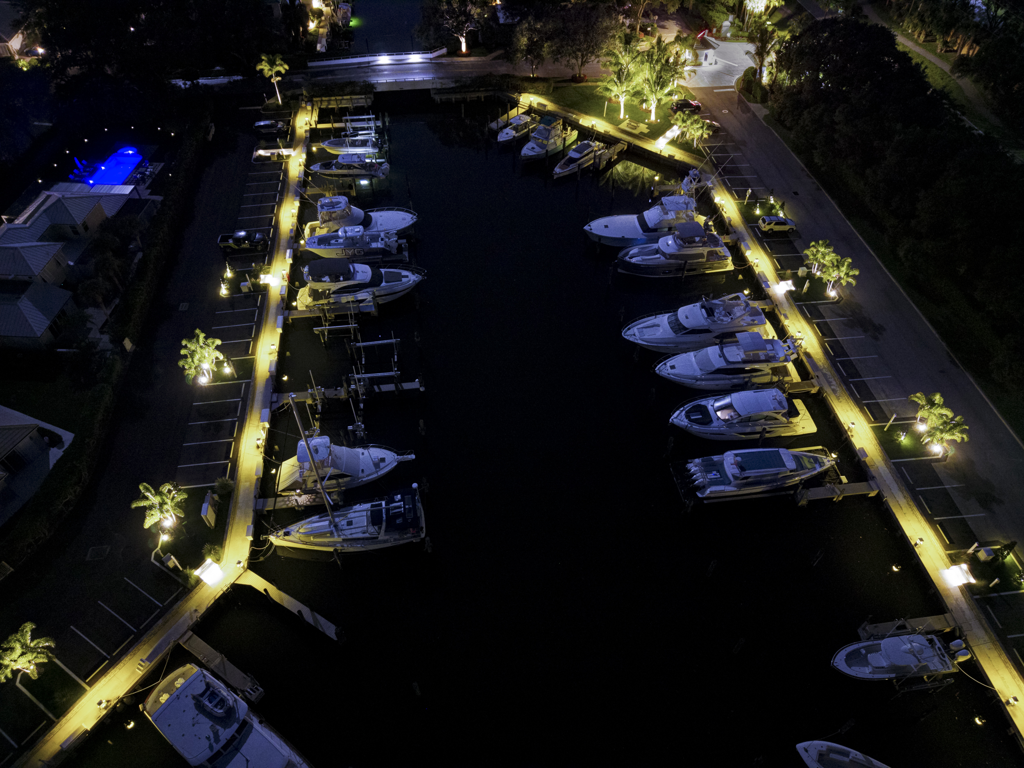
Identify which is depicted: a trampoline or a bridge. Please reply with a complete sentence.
I can see a bridge in this picture.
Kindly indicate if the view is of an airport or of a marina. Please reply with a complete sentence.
This looks like a marina.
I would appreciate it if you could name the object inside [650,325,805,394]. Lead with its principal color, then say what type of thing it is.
blue boat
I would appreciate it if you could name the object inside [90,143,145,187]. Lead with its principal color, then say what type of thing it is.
blue swimming pool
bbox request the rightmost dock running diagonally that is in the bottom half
[236,570,344,647]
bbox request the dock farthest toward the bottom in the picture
[179,629,258,696]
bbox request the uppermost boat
[338,3,352,30]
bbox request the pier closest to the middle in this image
[374,380,420,399]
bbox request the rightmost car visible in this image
[760,215,798,233]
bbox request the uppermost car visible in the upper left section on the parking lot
[254,120,285,136]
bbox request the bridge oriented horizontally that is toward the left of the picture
[305,42,448,90]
